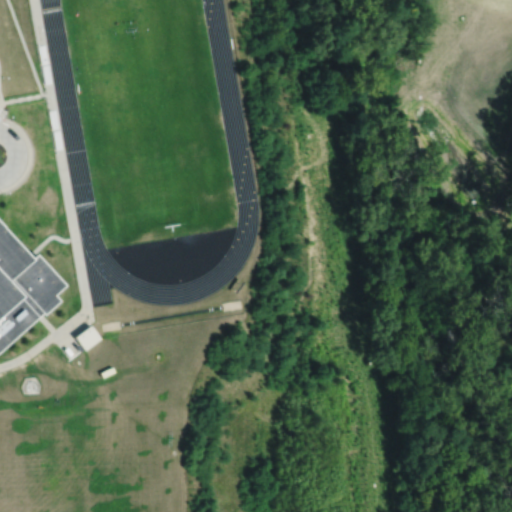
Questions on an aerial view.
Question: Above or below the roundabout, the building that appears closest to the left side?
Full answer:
It's below the roundabout that the building that appears closest to the left side shows up.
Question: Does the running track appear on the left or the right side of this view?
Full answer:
The running track appears in the left half of the scene.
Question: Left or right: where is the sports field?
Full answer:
You can find the sports field on the left side of the picture.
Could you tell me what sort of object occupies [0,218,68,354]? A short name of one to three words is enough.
building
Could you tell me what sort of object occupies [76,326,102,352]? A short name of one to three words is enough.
shed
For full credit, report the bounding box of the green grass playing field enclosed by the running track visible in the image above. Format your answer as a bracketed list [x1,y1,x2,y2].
[62,0,238,248]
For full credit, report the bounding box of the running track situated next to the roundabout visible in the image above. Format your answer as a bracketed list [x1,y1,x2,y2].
[41,0,258,316]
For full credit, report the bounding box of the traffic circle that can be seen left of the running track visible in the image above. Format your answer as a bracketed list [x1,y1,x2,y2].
[0,114,35,197]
